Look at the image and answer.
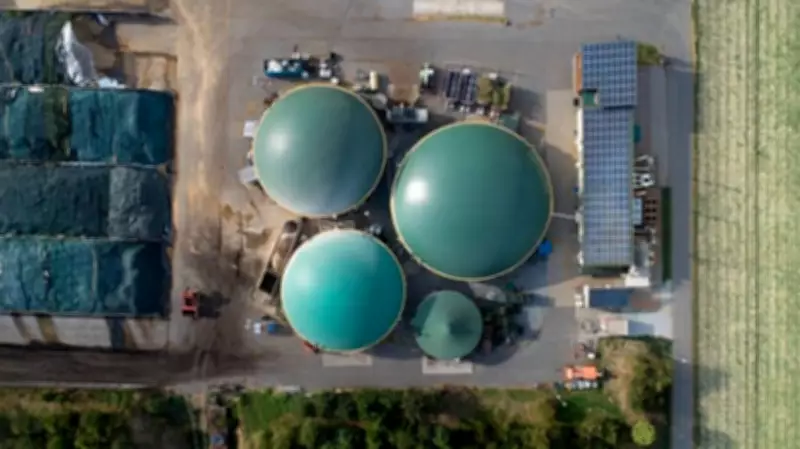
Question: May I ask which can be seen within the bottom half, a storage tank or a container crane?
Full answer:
The feature located within the bottom half is a storage tank.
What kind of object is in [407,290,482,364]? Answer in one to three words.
storage tank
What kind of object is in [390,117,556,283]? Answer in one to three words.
storage tank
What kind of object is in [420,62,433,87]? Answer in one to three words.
vehicle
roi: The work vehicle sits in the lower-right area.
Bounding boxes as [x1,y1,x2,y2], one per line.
[561,363,603,380]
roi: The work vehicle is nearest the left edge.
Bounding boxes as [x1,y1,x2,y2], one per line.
[183,283,200,318]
